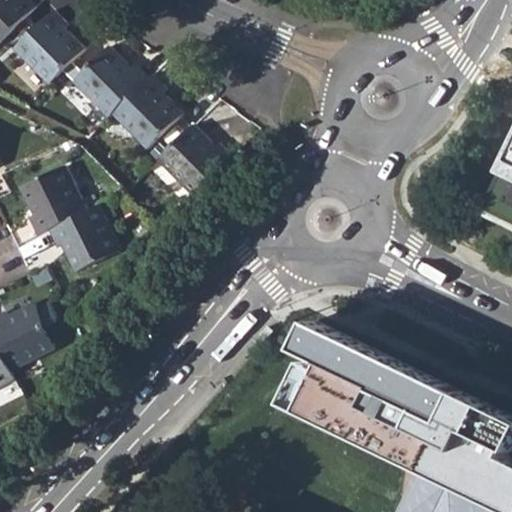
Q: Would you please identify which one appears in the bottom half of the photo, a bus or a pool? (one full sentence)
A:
The one visible in the bottom half of the photo is a bus.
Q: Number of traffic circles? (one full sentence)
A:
The count of traffic circles comes to 2.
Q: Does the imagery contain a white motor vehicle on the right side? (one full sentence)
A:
Yes, there is a white motor vehicle on the right side.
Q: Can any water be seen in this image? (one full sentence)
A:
No, the scene doesn't show any water.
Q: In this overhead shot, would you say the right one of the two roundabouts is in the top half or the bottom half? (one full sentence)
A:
It is in the top half that the right one of the two roundabouts appears.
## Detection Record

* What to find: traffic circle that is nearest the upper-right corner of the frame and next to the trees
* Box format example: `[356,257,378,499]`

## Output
[338,48,431,146]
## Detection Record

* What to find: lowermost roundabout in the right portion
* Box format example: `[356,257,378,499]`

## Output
[284,173,373,265]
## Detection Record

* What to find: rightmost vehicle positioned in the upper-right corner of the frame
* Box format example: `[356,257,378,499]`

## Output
[451,6,472,26]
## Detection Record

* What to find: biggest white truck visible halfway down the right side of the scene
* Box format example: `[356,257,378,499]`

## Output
[415,258,450,285]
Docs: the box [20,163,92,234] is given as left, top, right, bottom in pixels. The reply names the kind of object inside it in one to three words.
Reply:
house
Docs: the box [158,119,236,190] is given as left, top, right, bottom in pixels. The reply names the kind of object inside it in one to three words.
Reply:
house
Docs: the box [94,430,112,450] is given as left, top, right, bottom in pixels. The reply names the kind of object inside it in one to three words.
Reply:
car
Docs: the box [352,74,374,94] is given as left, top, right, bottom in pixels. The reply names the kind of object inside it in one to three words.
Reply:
car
